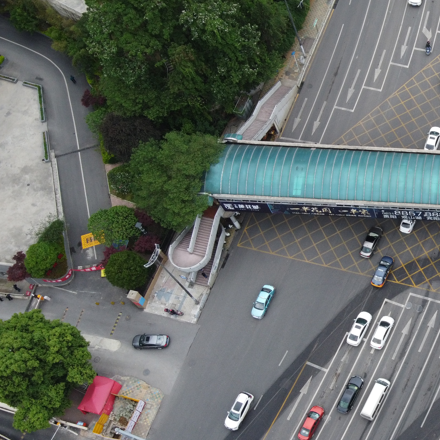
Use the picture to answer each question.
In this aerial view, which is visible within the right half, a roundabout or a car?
car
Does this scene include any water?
No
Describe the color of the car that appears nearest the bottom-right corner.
white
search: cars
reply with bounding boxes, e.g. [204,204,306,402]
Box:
[372,256,393,287]
[131,333,170,350]
[337,375,364,413]
[252,284,275,319]
[359,226,382,259]
[370,315,394,351]
[225,390,252,430]
[401,221,417,235]
[347,312,372,347]
[297,404,324,440]
[425,126,440,149]
[359,376,390,422]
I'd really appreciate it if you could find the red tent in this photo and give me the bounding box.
[77,375,129,419]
